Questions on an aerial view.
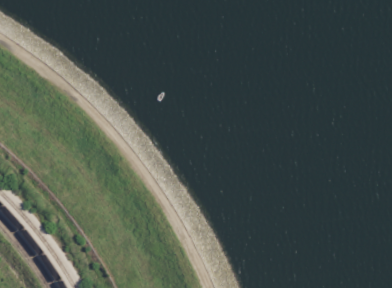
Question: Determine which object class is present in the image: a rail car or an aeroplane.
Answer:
rail car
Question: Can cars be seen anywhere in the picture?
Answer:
No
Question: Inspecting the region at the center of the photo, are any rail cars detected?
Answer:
No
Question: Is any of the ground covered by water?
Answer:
Yes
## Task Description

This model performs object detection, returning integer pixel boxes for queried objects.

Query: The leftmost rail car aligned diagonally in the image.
[0,206,24,232]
